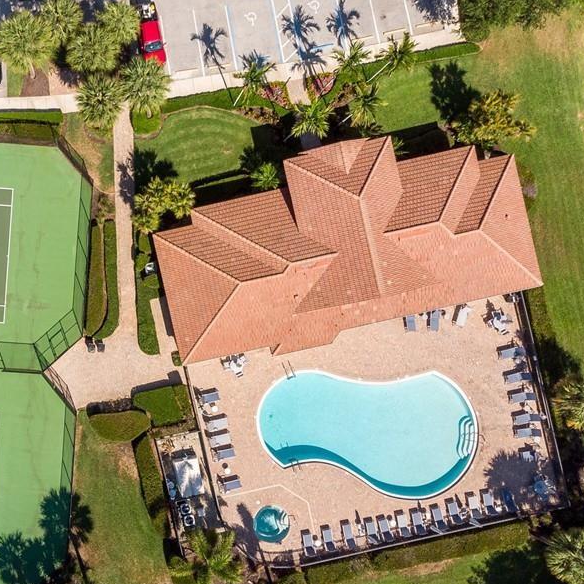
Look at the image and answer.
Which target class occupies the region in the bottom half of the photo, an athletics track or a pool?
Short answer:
pool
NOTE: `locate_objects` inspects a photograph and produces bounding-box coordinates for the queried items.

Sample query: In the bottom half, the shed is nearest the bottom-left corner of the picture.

[168,449,205,496]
